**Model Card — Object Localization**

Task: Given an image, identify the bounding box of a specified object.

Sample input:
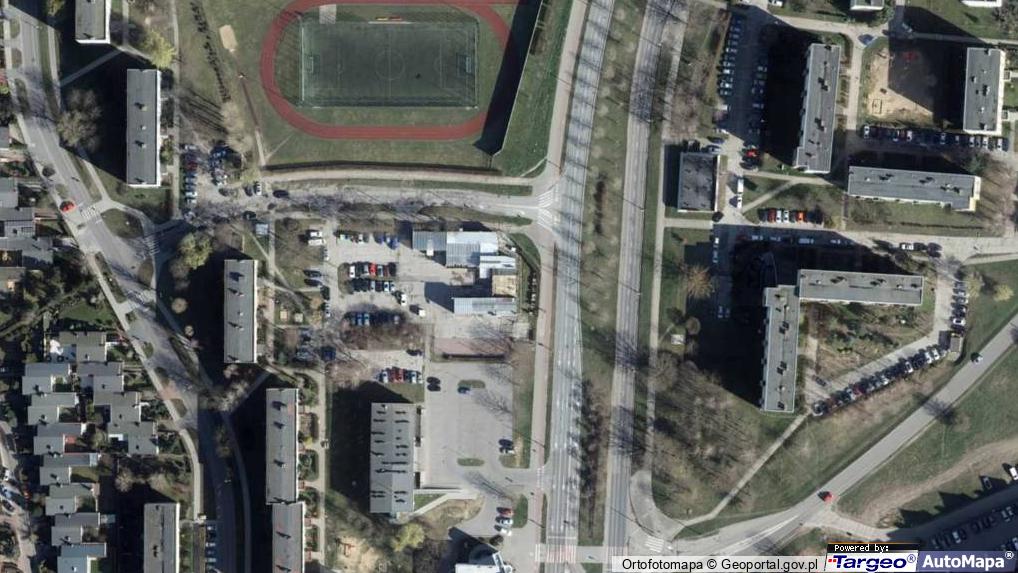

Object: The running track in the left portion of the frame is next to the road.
[260,0,532,140]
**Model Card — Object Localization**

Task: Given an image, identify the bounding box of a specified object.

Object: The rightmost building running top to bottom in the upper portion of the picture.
[963,48,1004,135]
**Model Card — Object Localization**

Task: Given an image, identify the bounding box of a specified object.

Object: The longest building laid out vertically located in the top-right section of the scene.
[796,44,844,176]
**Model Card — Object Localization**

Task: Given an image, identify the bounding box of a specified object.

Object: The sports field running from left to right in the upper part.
[302,22,476,106]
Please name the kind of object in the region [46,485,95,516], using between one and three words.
house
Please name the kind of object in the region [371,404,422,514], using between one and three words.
building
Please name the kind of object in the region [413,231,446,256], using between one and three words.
building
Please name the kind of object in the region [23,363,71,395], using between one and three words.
house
